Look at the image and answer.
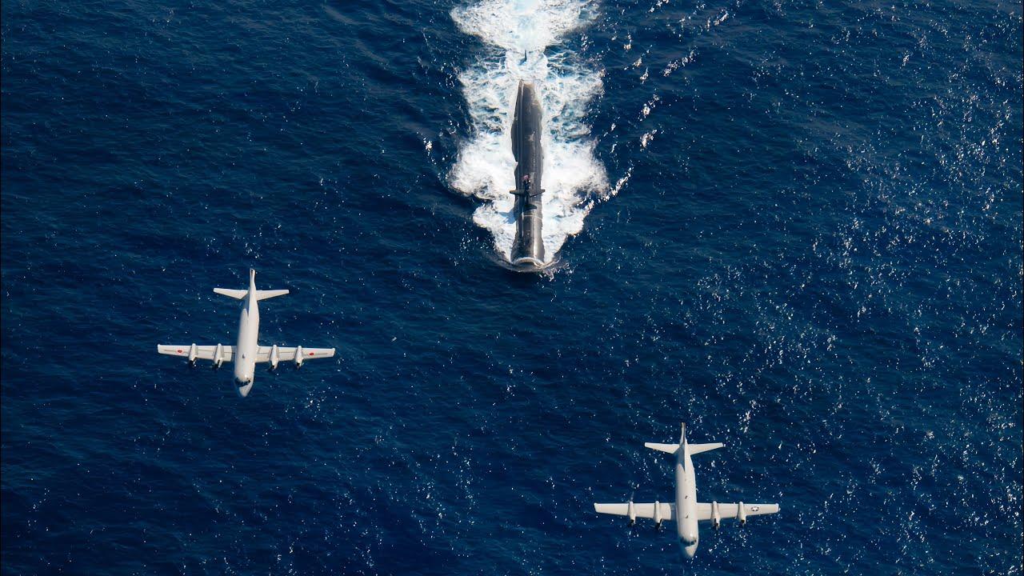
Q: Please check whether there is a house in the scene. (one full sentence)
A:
No, this view has no house in it.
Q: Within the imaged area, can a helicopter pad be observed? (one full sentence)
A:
No, the scene contains no helicopter pad.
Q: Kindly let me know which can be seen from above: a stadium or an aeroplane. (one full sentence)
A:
This aerial view contains an aeroplane.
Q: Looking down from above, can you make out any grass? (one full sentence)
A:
No, no grass is visible.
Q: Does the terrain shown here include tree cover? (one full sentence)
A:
No, tree cover can't be seen anywhere here.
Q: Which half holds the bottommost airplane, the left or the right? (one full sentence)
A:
The bottommost airplane appears in the right half of the scene.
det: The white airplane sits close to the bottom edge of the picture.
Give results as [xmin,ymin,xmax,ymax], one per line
[595,423,779,560]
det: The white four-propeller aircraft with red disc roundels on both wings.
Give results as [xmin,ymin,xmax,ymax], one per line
[158,269,335,398]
